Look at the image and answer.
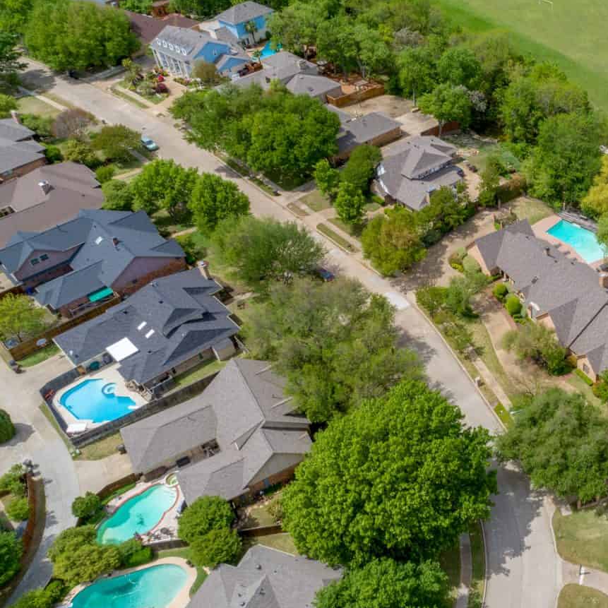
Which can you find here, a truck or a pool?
pool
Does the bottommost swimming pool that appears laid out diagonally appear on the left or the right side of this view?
left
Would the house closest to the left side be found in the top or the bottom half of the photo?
top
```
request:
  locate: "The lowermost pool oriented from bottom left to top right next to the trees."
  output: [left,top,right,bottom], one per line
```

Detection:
[95,471,180,546]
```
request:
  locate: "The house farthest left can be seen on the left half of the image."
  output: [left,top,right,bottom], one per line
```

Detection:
[0,108,47,178]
